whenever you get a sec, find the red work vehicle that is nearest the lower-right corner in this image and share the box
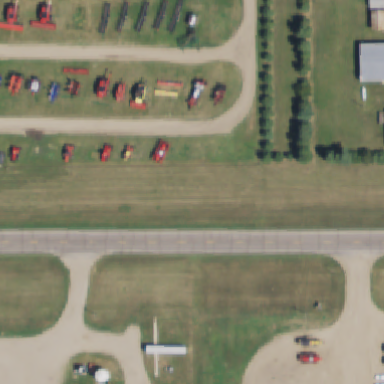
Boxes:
[298,353,320,366]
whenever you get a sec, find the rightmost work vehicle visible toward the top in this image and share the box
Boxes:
[213,86,226,104]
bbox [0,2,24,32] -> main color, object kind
red work vehicle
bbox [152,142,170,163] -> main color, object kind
red work vehicle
